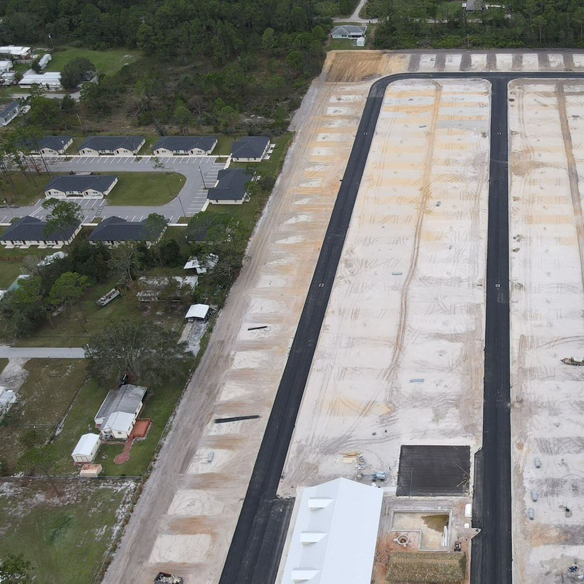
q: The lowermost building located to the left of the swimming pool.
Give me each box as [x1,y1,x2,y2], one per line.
[281,479,383,584]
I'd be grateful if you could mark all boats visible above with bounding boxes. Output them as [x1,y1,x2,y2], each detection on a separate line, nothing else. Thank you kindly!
[95,290,120,305]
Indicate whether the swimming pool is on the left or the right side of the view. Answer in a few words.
right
